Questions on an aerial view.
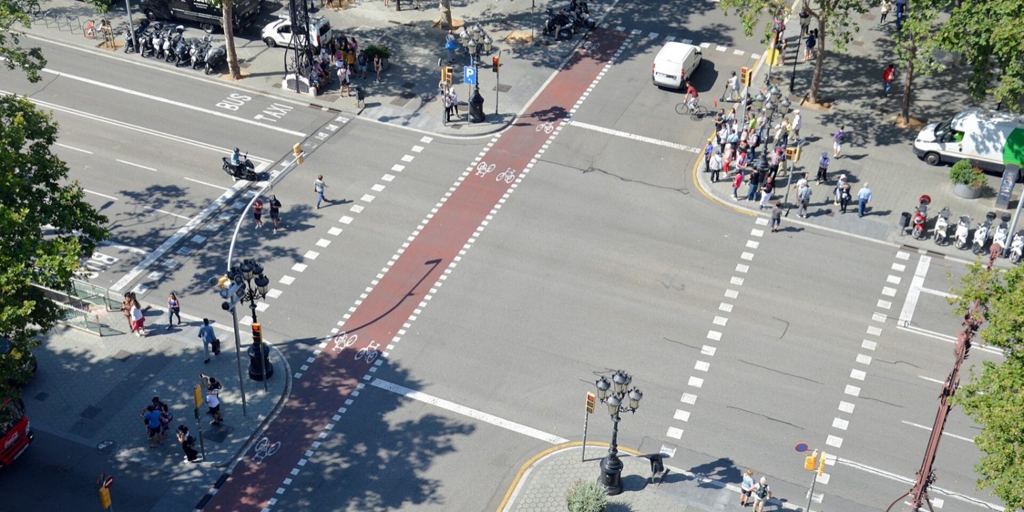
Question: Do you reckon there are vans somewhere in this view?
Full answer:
Yes, the photo shows a van.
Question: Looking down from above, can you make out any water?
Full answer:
No, water can't be seen anywhere here.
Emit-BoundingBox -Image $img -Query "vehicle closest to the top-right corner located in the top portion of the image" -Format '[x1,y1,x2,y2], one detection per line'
[909,106,1024,183]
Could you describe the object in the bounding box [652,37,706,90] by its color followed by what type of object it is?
white van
